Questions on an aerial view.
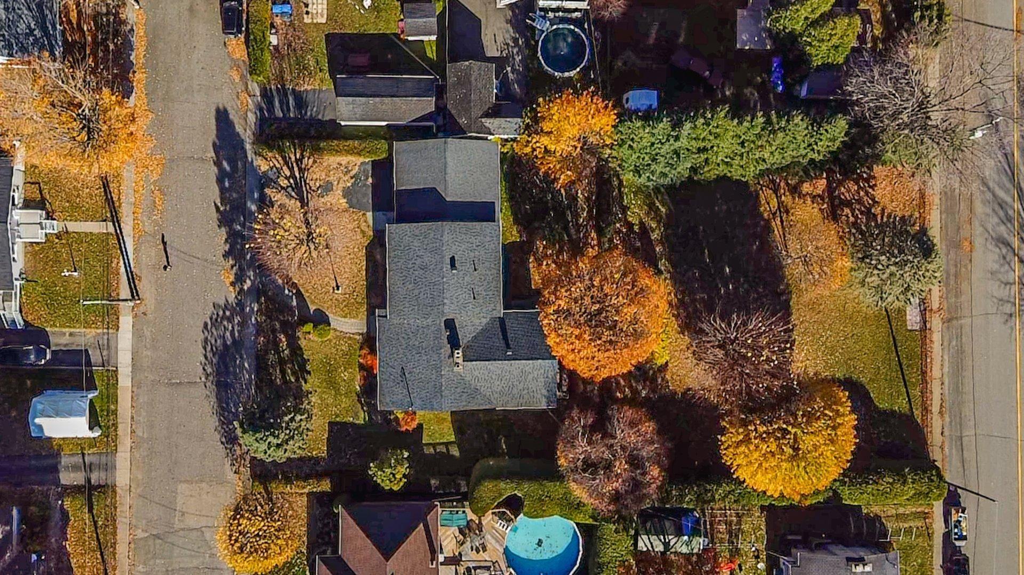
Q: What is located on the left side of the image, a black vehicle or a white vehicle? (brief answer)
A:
black vehicle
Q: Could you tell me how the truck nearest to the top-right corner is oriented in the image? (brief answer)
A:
on a diagonal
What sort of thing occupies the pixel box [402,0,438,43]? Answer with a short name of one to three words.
shed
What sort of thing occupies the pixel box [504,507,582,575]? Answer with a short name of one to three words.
swimming pool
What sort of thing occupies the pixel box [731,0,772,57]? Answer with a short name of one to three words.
shed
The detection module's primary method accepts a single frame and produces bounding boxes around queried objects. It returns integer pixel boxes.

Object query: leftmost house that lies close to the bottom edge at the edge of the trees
[316,495,440,575]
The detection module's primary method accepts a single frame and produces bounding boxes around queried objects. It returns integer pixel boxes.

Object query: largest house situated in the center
[376,136,576,416]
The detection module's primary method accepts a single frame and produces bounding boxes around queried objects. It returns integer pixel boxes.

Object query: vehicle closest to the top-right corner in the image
[670,46,725,93]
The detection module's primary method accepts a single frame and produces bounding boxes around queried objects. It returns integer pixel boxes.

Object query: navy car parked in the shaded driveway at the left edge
[0,343,51,366]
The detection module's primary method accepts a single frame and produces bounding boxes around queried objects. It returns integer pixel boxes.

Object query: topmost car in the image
[220,0,245,36]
